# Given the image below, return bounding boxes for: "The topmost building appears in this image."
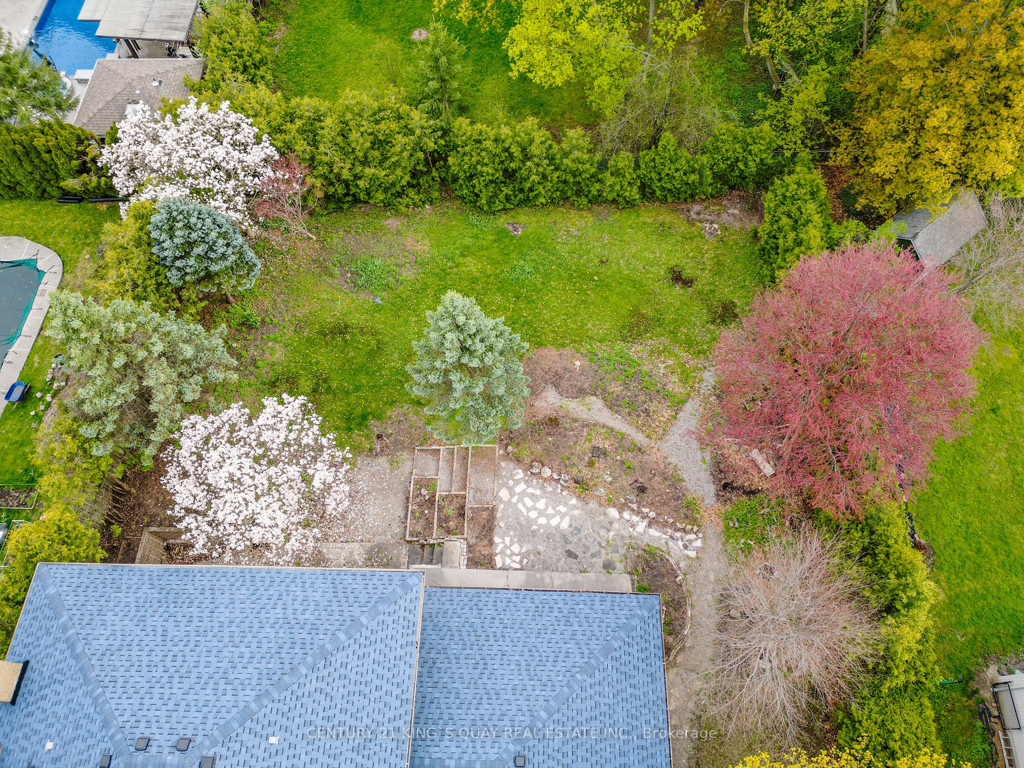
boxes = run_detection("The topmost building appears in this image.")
[76,0,211,59]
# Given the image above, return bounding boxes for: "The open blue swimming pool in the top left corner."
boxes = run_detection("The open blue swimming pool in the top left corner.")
[14,0,75,81]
